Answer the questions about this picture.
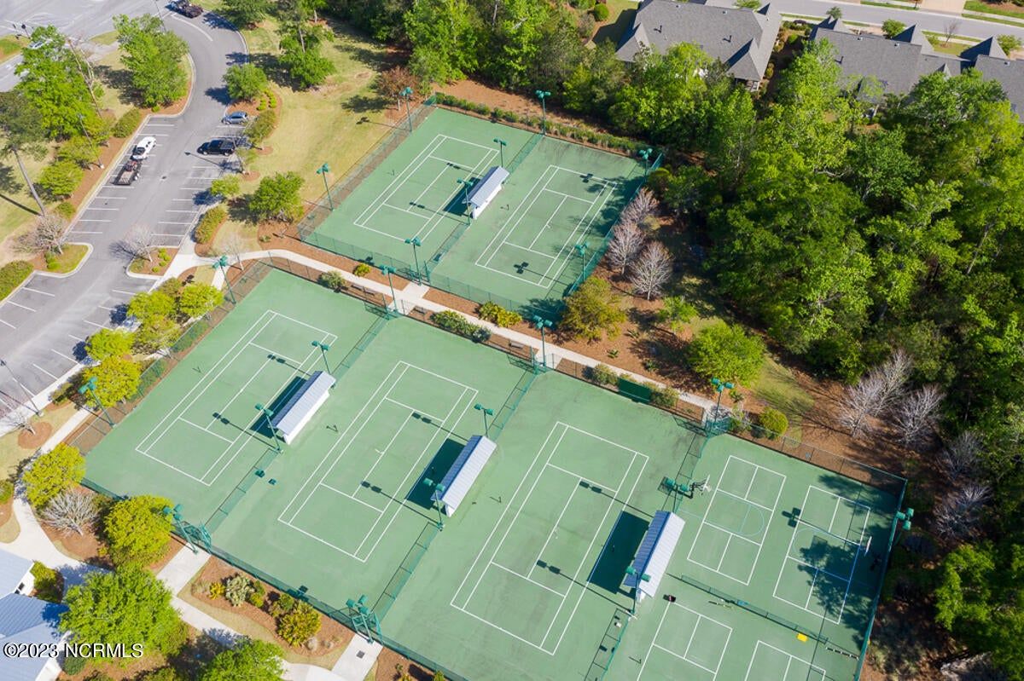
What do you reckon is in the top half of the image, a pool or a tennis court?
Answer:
tennis court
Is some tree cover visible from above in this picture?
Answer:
Yes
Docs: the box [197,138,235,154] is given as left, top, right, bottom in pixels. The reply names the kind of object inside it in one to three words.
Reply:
vehicle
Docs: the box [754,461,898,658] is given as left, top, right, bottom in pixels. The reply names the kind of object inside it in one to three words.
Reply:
sports court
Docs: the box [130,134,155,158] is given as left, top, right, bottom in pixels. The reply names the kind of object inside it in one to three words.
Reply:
truck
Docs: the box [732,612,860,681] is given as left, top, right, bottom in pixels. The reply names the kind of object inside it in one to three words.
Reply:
sports court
